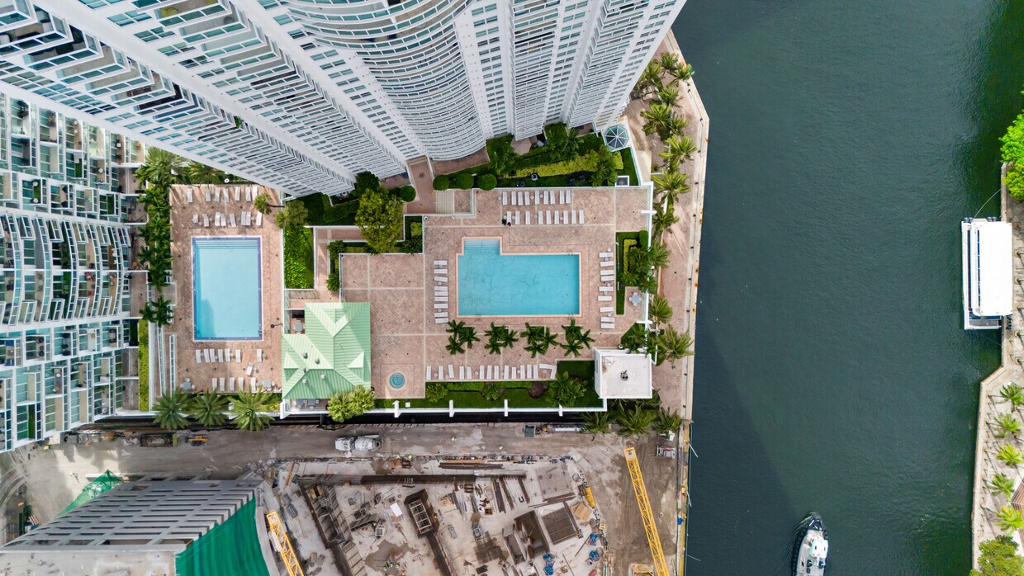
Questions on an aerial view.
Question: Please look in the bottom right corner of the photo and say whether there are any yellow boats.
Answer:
No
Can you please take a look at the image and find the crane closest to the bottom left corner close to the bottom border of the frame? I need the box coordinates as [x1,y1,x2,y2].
[260,510,306,576]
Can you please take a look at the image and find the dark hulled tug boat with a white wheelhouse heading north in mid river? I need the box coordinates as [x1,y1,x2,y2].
[790,510,829,576]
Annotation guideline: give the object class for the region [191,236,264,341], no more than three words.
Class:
swimming pool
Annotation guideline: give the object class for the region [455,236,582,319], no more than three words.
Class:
swimming pool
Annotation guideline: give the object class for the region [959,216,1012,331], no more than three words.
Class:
boat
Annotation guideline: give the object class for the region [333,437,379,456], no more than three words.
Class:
vehicle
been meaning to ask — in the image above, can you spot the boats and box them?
[959,216,1012,331]
[790,510,829,576]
